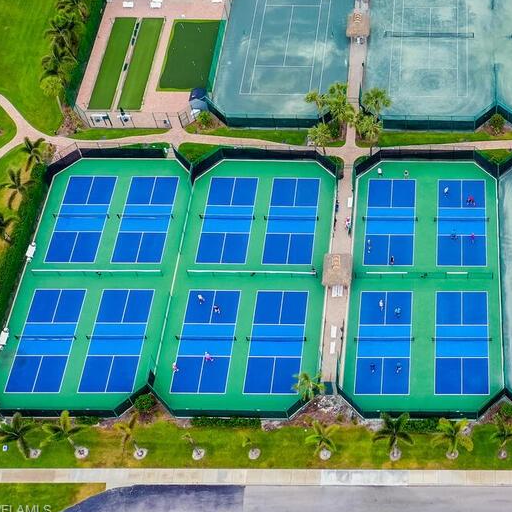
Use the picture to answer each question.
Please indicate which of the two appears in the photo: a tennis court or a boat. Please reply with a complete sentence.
Visible in the photo is a tennis court.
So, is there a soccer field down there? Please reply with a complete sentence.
No, there appears to be no soccer field in this shot.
